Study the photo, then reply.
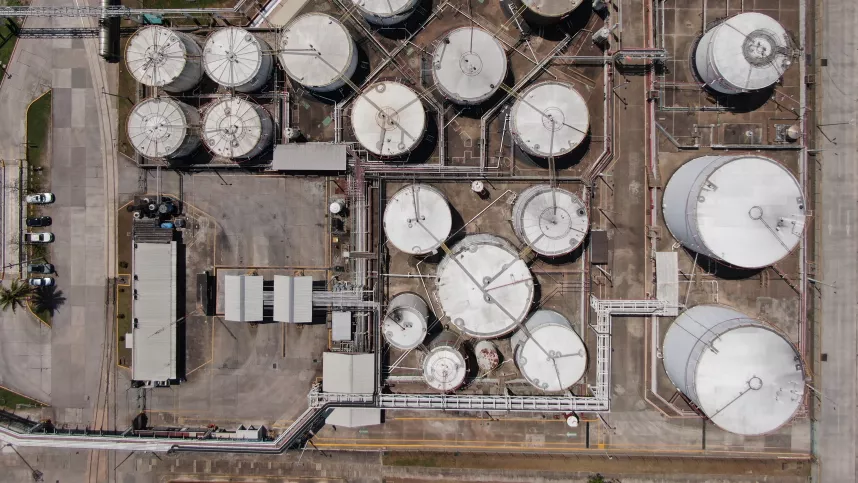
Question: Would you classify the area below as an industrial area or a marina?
industrial area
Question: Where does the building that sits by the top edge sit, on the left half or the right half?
left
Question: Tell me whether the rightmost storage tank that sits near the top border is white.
Yes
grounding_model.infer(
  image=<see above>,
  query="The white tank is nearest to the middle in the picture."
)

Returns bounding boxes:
[383,180,457,254]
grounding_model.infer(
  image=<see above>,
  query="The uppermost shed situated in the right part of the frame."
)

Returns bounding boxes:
[589,231,607,264]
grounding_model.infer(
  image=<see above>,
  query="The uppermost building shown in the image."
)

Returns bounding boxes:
[268,0,320,31]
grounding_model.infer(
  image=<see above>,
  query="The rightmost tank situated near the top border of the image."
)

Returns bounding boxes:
[690,10,798,99]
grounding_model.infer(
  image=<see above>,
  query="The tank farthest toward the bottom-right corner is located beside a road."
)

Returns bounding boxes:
[658,299,809,438]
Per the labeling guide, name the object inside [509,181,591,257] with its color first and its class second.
white storage tank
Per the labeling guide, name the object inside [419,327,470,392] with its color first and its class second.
white storage tank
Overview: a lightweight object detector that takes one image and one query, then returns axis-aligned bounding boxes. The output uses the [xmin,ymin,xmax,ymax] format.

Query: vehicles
[26,216,54,227]
[27,192,57,205]
[24,231,57,244]
[27,262,57,275]
[28,276,57,288]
